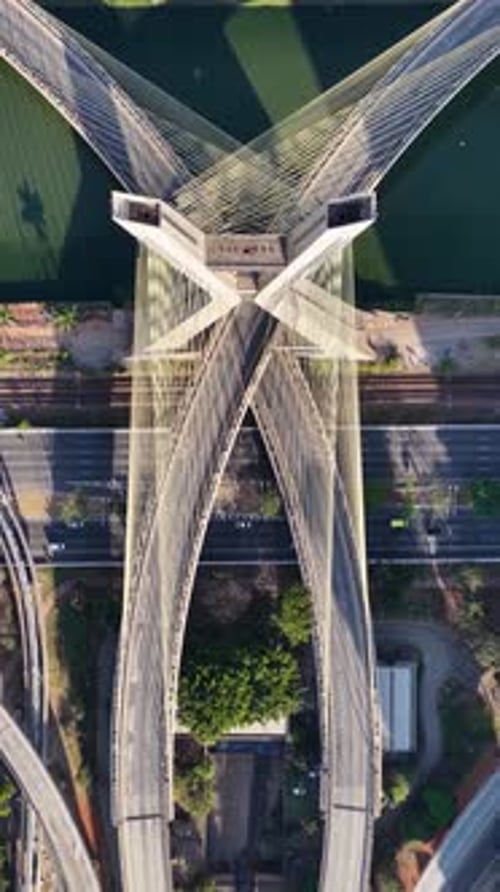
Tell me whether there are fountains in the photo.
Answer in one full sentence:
No, no fountain can be seen from above.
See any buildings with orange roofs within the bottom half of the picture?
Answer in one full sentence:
No, I see no building with an orange roof within the bottom half of the picture.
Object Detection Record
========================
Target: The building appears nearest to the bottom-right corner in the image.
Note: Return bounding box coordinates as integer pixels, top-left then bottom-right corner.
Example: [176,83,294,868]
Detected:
[376,660,416,753]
